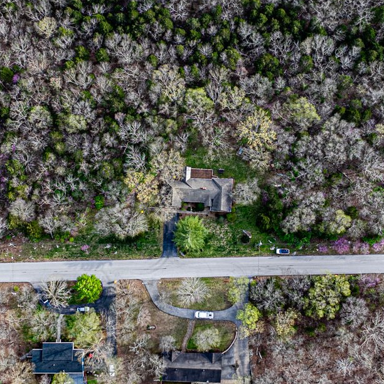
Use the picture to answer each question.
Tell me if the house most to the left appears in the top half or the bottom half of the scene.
bottom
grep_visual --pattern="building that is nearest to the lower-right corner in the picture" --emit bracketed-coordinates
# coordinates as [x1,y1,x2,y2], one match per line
[162,353,224,384]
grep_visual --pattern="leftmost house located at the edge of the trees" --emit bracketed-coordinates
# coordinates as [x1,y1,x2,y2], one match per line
[31,340,86,384]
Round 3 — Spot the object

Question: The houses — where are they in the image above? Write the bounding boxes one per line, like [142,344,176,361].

[170,168,233,212]
[31,340,86,384]
[162,353,224,384]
